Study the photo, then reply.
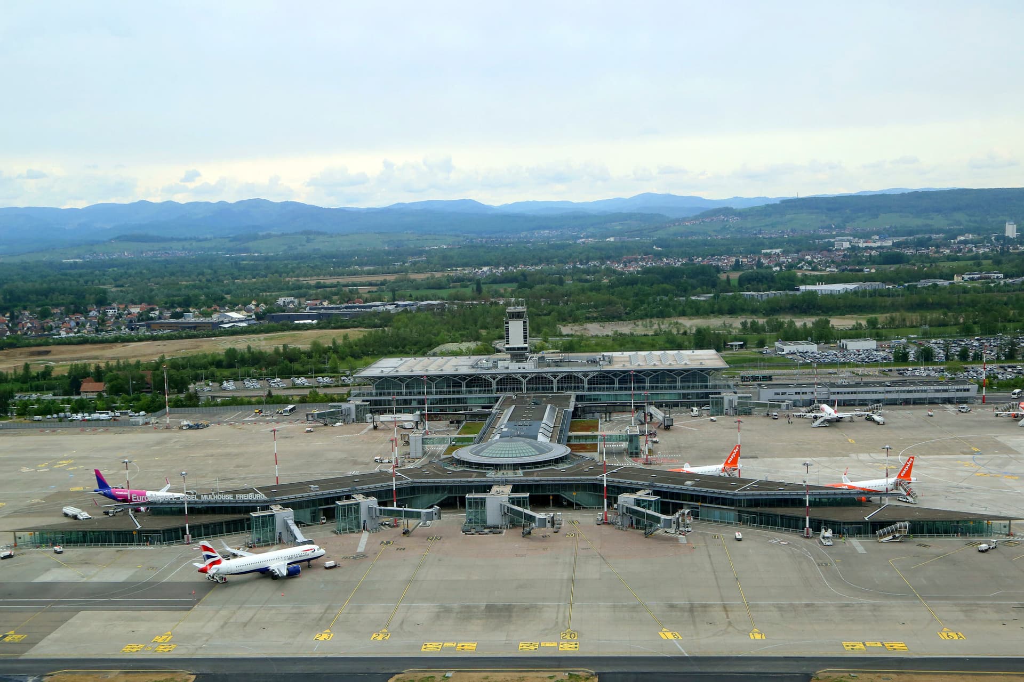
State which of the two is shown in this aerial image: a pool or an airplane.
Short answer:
airplane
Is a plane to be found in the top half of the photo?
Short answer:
No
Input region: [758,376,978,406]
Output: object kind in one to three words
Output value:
building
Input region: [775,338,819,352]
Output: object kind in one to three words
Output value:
shed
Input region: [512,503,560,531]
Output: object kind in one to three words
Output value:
jet bridge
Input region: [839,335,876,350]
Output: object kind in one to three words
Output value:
shed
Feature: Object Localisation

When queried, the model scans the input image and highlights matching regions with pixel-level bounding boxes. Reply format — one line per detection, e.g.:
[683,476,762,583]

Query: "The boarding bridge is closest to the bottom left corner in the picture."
[286,512,321,549]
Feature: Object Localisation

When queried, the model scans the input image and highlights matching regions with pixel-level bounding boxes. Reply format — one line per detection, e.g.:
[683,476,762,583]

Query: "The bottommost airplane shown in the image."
[195,540,324,581]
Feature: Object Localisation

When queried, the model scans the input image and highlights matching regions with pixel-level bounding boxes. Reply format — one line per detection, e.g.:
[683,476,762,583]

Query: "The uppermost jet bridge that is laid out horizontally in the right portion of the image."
[733,398,795,417]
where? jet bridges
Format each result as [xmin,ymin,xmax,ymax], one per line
[618,500,690,534]
[733,398,795,417]
[286,512,321,549]
[512,503,560,531]
[305,407,345,423]
[367,411,419,427]
[646,403,671,427]
[370,504,442,533]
